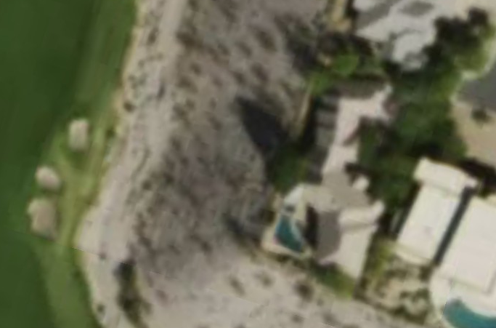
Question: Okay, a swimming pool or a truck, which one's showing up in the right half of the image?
swimming pool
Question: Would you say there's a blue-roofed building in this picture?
No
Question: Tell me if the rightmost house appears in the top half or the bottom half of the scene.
bottom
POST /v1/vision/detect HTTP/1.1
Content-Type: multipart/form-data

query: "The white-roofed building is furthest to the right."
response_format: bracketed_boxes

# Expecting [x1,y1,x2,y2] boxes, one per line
[443,197,496,294]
